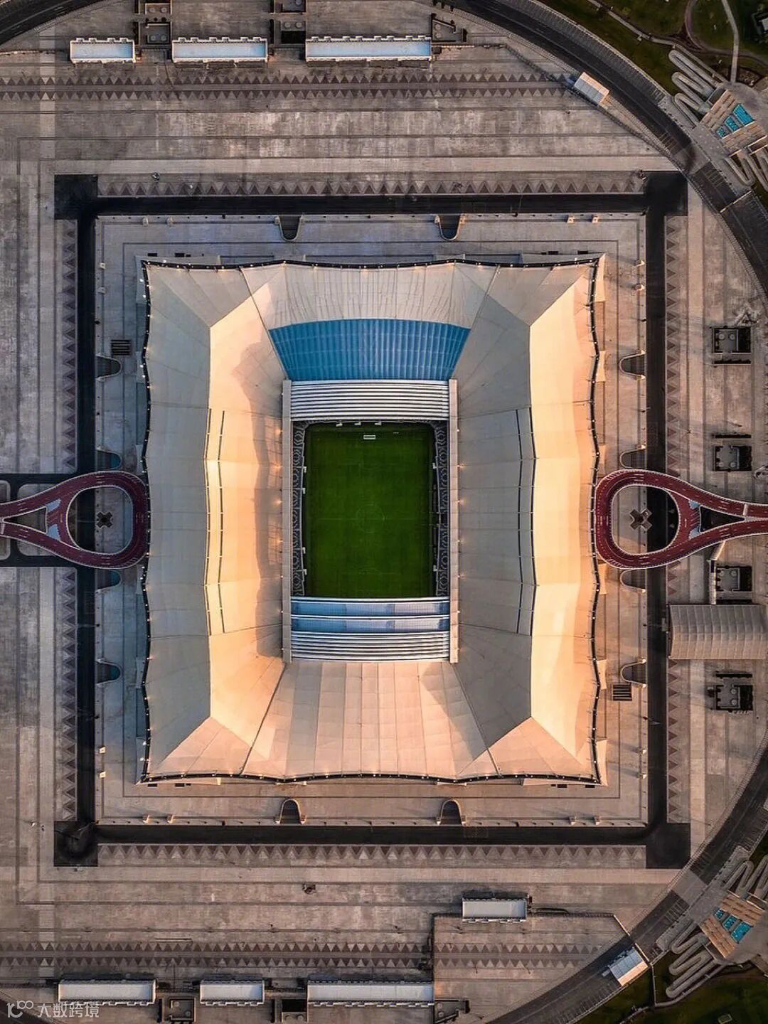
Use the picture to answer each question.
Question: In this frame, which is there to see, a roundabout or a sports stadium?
sports stadium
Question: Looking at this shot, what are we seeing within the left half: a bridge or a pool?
bridge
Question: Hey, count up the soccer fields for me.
1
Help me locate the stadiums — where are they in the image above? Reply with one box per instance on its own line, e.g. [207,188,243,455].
[137,255,607,785]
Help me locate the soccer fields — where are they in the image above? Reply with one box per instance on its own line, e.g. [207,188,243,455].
[301,423,440,598]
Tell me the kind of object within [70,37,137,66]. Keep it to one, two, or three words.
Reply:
building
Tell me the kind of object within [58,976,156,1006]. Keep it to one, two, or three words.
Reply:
building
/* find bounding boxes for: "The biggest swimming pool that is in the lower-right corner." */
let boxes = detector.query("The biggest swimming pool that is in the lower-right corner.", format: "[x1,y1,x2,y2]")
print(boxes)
[729,920,754,944]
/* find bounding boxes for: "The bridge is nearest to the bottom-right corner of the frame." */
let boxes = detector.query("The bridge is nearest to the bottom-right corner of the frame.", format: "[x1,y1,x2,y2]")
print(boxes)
[595,469,768,570]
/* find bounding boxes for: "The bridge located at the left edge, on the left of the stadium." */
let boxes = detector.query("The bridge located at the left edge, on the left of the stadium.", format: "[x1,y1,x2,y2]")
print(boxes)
[0,470,147,569]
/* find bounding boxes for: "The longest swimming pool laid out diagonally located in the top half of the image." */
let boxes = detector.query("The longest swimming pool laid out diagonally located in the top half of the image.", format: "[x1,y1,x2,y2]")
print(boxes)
[732,104,755,126]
